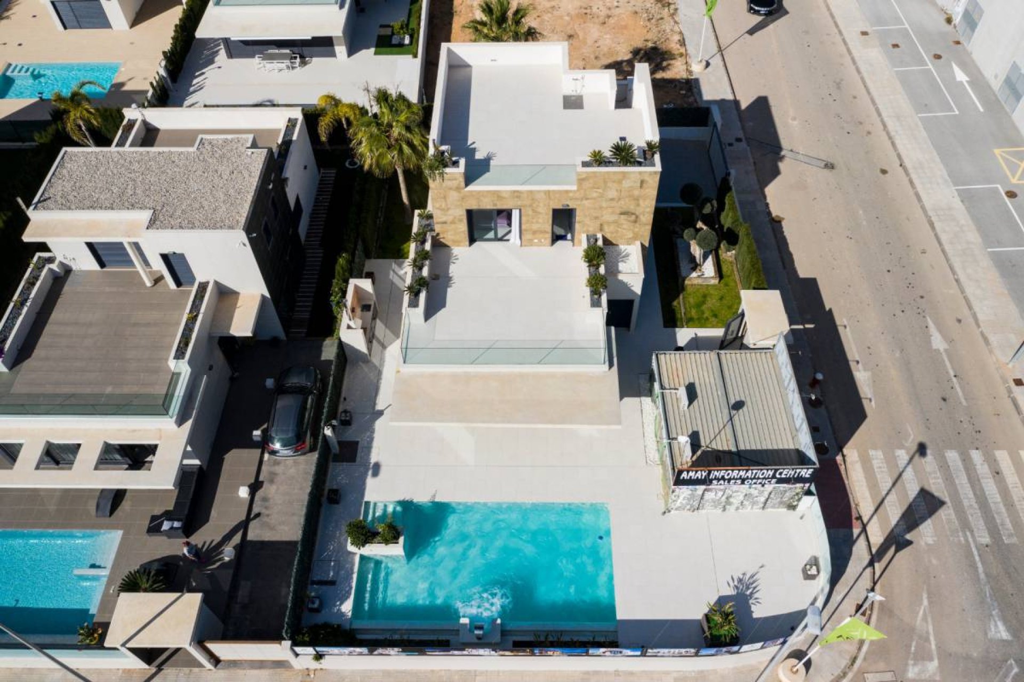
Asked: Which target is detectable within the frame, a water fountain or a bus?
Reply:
water fountain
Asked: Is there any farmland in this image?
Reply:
No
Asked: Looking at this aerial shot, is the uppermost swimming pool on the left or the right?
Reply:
left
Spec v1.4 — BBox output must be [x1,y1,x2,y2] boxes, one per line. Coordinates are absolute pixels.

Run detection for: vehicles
[748,0,781,15]
[267,357,333,459]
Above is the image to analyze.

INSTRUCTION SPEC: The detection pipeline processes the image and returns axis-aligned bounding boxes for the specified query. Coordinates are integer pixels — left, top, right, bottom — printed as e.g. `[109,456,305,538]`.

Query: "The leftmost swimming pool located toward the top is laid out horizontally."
[0,61,122,106]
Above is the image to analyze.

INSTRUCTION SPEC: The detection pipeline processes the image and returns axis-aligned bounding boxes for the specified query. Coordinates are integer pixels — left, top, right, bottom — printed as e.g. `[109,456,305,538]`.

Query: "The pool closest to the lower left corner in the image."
[0,527,128,647]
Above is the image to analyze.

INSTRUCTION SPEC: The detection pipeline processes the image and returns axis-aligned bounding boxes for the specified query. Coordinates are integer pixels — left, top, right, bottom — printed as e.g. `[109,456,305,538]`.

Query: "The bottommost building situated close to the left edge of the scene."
[0,108,321,493]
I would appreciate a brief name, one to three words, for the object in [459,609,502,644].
fountain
